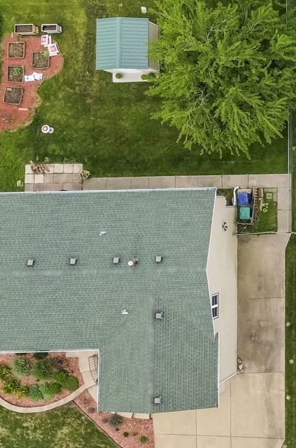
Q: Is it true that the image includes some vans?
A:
No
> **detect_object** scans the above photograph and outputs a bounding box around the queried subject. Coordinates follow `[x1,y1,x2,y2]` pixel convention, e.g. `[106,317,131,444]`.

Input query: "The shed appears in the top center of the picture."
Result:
[96,15,157,82]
